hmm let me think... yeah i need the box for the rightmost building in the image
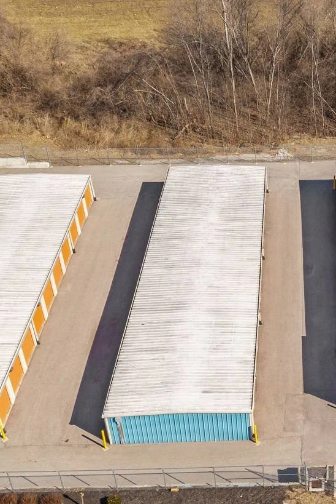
[101,165,268,446]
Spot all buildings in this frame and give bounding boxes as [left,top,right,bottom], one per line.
[0,173,96,436]
[101,165,268,446]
